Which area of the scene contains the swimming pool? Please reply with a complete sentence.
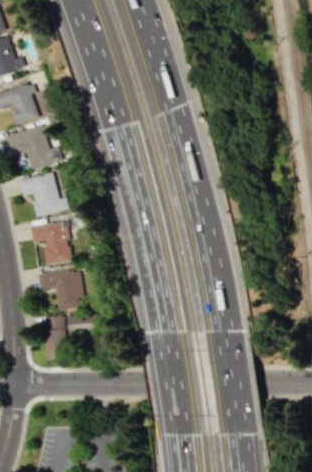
The swimming pool appears toward the top left of the photo.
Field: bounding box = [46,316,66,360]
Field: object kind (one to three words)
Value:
house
